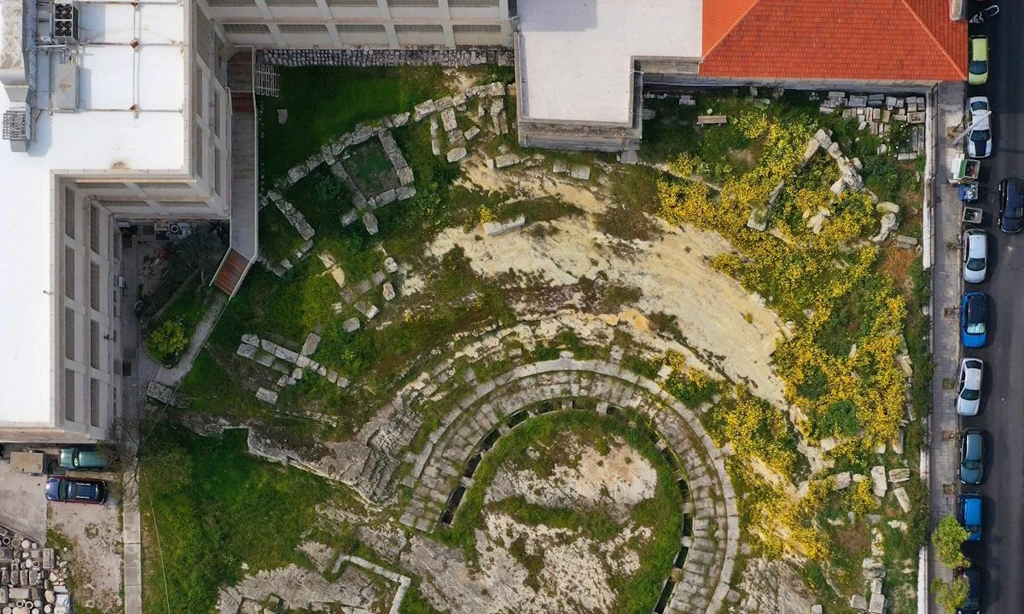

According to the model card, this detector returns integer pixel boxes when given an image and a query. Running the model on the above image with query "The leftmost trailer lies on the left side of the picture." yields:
[0,449,46,475]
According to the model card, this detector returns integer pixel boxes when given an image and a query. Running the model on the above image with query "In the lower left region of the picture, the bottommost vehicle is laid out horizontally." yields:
[47,475,109,504]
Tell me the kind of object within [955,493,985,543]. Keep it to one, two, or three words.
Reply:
car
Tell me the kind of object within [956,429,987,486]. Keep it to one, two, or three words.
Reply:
car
